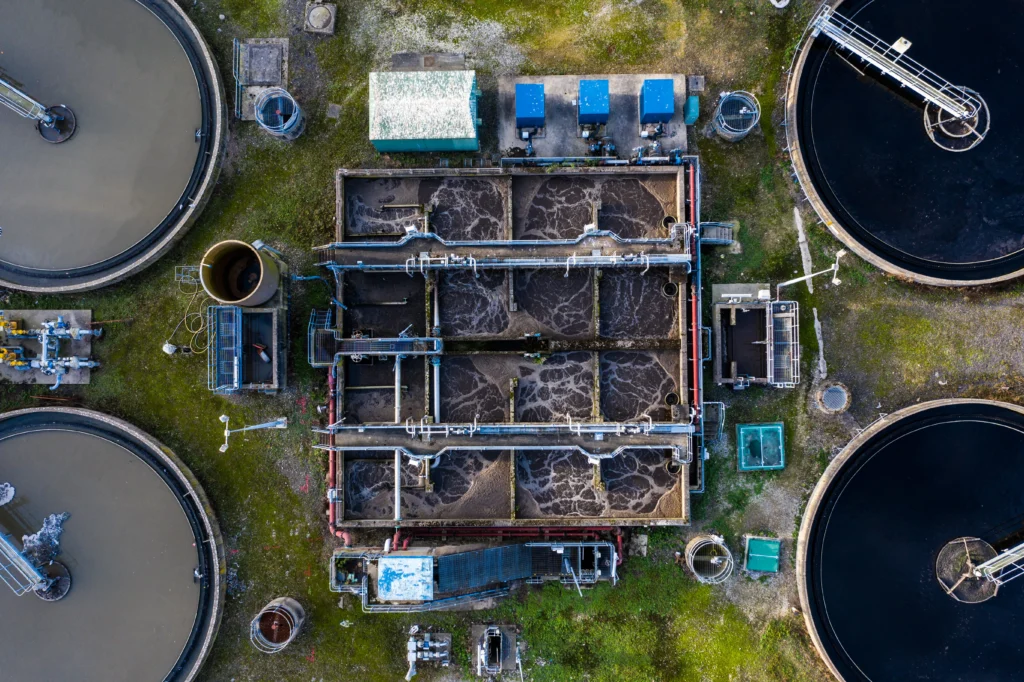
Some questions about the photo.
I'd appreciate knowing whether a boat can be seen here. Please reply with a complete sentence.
No, I can see no boat in this picture.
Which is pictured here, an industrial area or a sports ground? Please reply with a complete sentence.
This image shows an industrial area.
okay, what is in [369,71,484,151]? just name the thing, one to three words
shed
